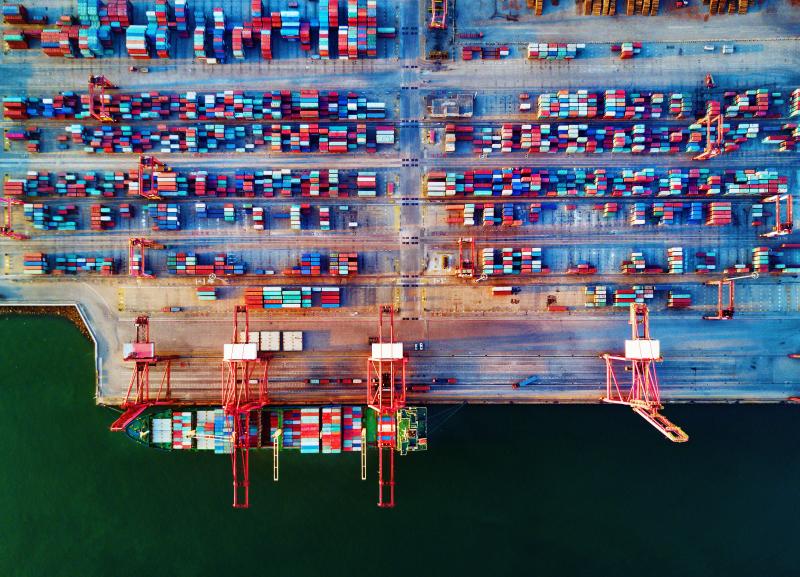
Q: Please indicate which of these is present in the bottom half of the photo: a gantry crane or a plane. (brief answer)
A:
gantry crane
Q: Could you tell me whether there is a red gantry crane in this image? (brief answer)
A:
Yes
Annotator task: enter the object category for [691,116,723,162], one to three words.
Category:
container crane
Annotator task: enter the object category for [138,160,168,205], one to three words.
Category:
container crane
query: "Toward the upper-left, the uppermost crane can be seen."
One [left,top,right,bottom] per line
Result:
[89,80,121,128]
